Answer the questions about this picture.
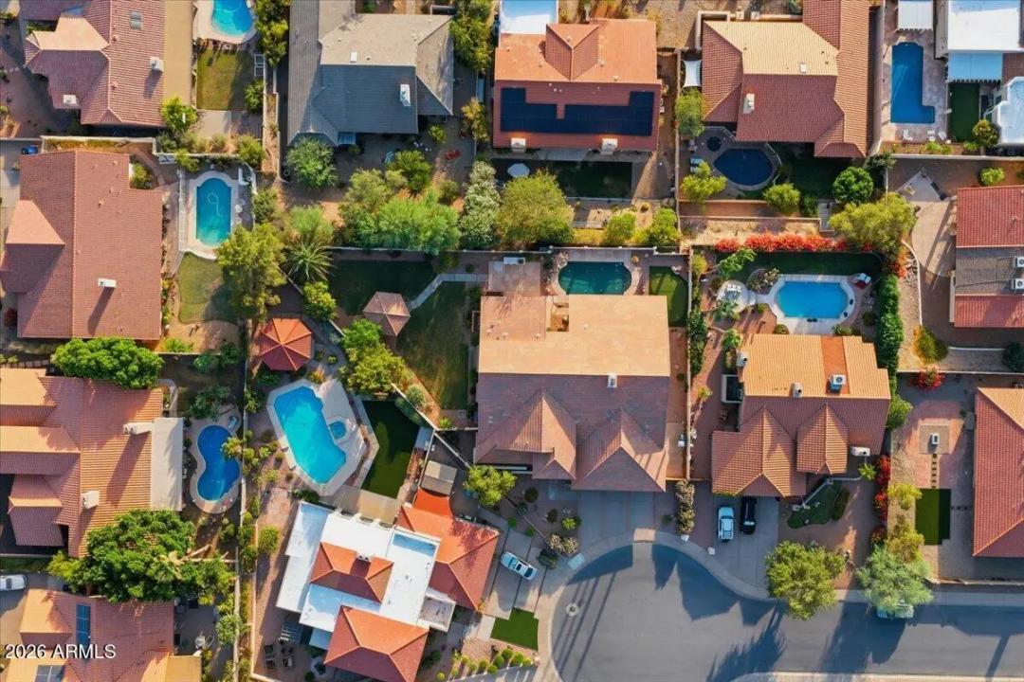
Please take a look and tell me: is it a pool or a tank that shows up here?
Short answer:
pool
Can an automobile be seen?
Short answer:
Yes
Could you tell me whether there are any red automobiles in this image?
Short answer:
No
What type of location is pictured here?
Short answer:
residential area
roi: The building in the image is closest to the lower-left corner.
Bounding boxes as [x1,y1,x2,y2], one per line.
[3,587,211,682]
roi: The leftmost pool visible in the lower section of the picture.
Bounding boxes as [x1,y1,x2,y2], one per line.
[193,421,243,505]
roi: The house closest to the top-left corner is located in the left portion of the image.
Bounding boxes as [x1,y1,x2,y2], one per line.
[19,0,200,127]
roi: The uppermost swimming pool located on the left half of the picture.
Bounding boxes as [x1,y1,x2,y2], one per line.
[209,0,255,38]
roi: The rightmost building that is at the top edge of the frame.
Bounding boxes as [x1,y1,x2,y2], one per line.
[920,0,1024,150]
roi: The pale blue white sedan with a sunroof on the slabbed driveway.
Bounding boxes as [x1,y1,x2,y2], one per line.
[499,550,539,582]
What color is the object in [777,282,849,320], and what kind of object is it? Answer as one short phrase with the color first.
blue swimming pool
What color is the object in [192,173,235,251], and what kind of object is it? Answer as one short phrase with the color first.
blue swimming pool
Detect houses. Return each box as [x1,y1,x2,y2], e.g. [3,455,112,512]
[288,0,454,147]
[474,256,670,492]
[277,498,500,682]
[711,334,891,497]
[937,185,1024,327]
[19,0,200,127]
[703,0,869,157]
[0,369,193,560]
[969,388,1024,556]
[0,150,165,339]
[920,0,1024,150]
[3,587,211,682]
[492,0,661,153]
